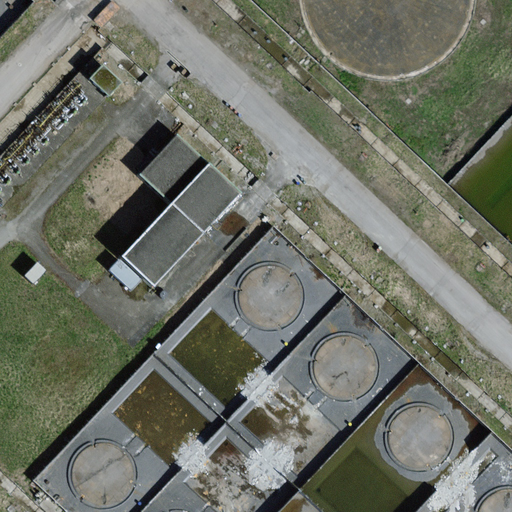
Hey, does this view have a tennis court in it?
No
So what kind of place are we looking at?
industrial area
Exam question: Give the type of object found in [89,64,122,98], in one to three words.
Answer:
shed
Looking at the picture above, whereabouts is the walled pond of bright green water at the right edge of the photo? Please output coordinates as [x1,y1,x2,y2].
[446,112,512,242]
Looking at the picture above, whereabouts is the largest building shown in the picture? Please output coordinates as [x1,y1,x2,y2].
[120,134,243,286]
